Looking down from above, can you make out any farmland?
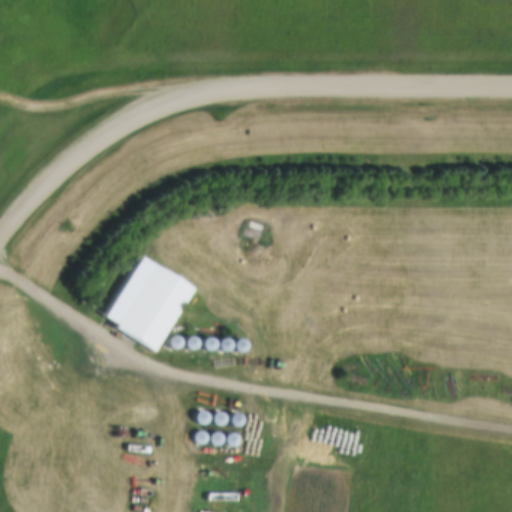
Yes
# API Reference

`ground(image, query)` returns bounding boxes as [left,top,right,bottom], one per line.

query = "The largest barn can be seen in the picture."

[107,256,196,352]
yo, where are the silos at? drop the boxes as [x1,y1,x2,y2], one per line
[194,430,210,448]
[202,335,218,353]
[210,430,227,450]
[196,408,212,428]
[235,337,251,355]
[230,410,247,430]
[219,336,235,354]
[185,334,202,353]
[226,432,243,449]
[168,334,184,352]
[214,409,230,428]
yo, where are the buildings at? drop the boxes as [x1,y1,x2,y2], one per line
[244,221,264,242]
[107,256,196,352]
